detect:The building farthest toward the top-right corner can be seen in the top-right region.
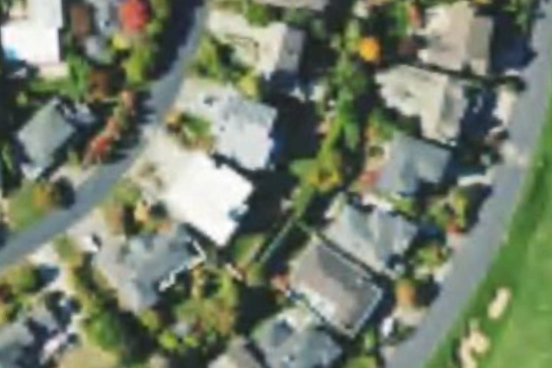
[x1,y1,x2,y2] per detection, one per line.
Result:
[420,0,496,74]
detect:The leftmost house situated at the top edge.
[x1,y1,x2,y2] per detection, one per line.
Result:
[0,0,60,64]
